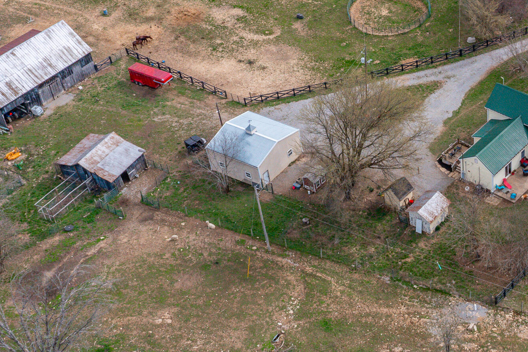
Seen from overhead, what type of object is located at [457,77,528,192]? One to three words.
house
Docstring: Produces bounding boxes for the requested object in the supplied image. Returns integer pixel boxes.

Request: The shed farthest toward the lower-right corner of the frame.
[404,191,450,234]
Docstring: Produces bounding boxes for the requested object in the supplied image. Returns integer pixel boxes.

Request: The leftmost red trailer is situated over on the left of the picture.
[126,62,171,89]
